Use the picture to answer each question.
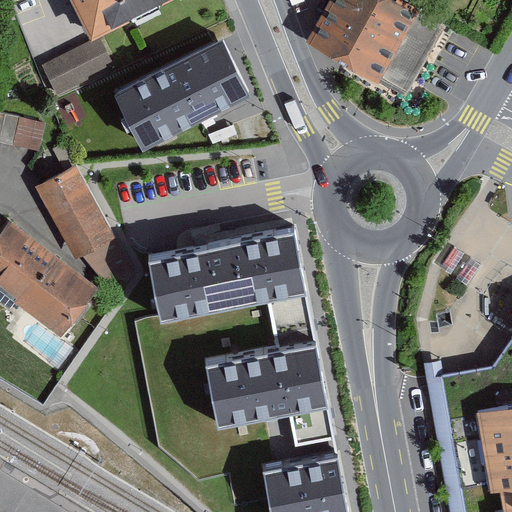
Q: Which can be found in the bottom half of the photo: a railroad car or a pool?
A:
pool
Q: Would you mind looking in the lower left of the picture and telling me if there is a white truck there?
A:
No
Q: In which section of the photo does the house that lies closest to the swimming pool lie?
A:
left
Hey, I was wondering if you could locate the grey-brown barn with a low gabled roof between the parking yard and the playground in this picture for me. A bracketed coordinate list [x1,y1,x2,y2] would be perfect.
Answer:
[42,38,112,93]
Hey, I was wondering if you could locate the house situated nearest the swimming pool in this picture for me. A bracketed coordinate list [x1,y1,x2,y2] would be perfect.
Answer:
[0,222,96,336]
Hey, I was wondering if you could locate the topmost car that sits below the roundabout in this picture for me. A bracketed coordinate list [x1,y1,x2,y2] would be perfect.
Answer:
[411,388,423,412]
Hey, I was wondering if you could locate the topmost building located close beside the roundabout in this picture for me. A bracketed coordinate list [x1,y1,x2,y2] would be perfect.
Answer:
[306,0,444,92]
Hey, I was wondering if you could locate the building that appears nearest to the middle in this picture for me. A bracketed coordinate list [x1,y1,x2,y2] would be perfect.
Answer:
[149,228,306,324]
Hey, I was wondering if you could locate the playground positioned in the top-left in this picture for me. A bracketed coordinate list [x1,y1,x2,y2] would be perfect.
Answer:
[62,92,86,126]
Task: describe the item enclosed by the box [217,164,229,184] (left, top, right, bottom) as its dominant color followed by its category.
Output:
gray vehicle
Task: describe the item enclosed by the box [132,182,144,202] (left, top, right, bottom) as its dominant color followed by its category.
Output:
blue vehicle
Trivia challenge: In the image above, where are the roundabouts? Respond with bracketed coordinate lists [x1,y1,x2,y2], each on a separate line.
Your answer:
[312,136,441,264]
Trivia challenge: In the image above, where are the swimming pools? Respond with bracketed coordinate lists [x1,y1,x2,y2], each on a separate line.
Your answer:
[7,306,76,370]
